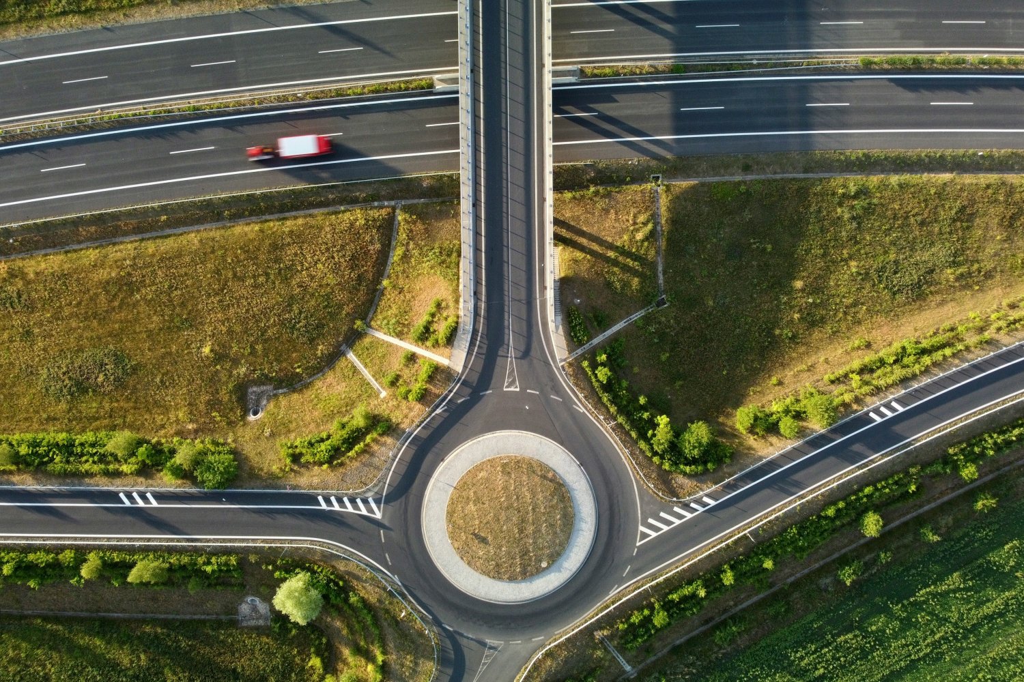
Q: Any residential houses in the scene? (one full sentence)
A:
No, the photo shows no residential house.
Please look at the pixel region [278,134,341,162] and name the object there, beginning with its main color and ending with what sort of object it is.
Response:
white truck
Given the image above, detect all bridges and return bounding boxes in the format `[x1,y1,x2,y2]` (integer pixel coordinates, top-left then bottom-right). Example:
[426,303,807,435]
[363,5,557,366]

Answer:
[458,0,559,362]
